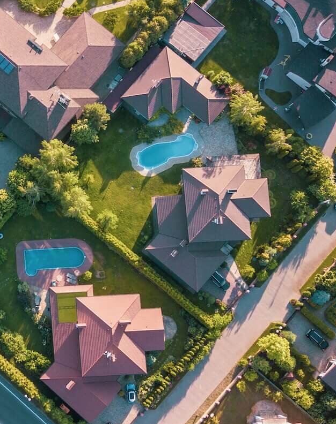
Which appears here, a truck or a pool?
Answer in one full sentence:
Of the two, only a pool appears.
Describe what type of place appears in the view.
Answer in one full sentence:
This image shows a residential area.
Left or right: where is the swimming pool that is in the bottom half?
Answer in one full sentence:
It is on the left.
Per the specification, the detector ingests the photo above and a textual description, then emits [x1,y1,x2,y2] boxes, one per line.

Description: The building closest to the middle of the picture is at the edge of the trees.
[145,158,271,291]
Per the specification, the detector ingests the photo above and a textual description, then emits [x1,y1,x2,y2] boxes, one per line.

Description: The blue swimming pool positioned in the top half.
[136,132,199,171]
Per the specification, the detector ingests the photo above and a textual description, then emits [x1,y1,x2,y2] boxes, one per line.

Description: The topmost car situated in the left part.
[125,383,137,404]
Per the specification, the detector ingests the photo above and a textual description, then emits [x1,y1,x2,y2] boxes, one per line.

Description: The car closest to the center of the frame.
[209,268,232,292]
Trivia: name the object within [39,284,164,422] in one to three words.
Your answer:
house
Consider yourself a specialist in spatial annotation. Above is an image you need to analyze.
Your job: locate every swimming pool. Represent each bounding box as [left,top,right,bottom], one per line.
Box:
[23,246,88,277]
[136,132,199,171]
